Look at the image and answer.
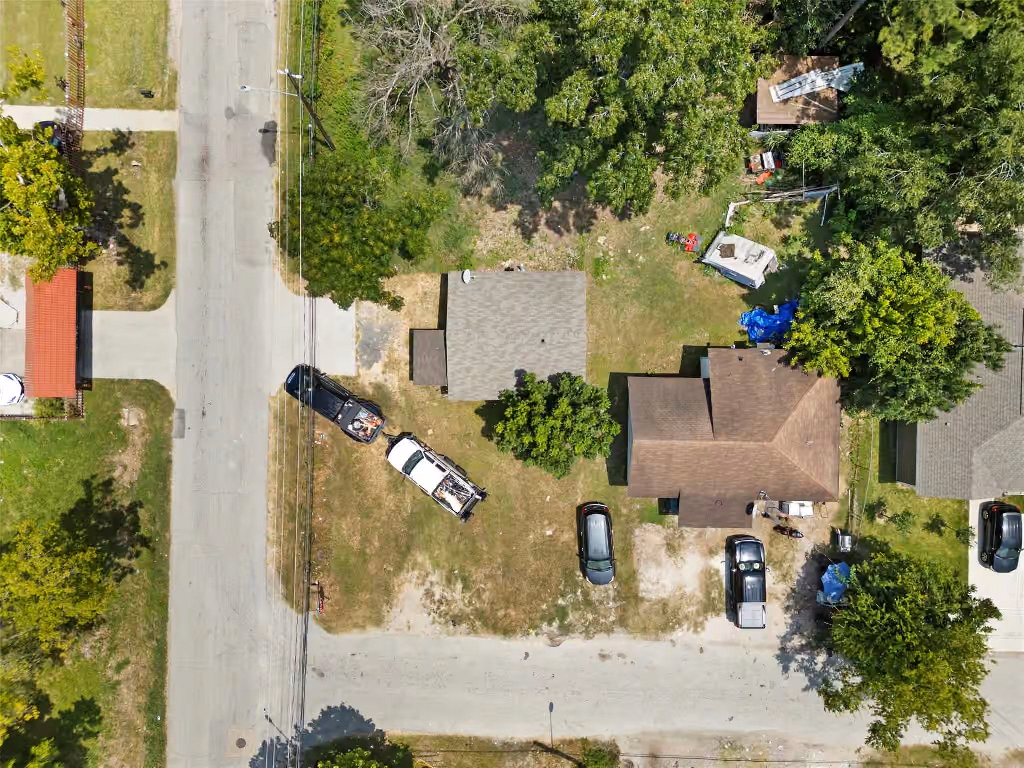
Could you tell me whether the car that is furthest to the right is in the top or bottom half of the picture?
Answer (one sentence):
The car that is furthest to the right is in the bottom half of the image.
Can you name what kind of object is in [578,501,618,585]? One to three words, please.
car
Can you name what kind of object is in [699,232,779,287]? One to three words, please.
vehicle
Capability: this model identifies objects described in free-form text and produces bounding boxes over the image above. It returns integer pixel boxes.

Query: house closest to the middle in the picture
[410,272,589,400]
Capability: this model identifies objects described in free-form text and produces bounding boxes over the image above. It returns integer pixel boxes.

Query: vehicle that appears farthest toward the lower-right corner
[981,500,1024,572]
